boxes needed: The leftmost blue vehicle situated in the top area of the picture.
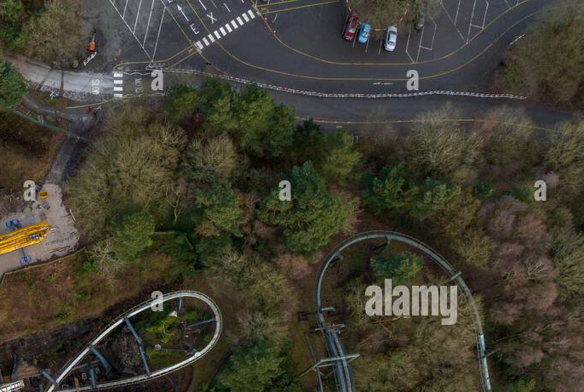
[356,22,371,44]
